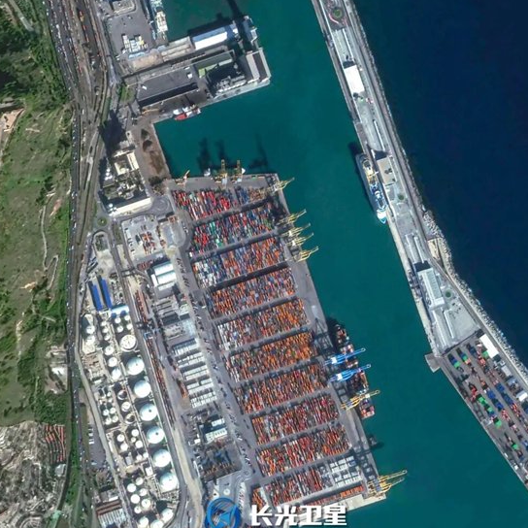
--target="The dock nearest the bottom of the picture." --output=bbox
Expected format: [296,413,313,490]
[294,490,384,525]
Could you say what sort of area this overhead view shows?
port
